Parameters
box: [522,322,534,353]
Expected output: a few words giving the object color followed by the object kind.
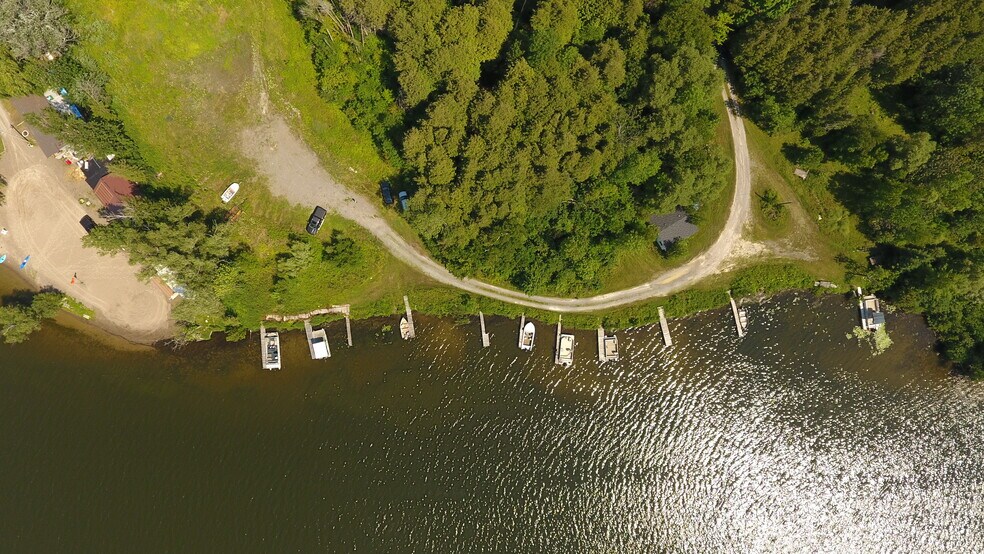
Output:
white boat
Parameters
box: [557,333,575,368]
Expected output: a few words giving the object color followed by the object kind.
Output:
white boat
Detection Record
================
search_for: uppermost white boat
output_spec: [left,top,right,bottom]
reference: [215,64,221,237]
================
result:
[219,181,238,204]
